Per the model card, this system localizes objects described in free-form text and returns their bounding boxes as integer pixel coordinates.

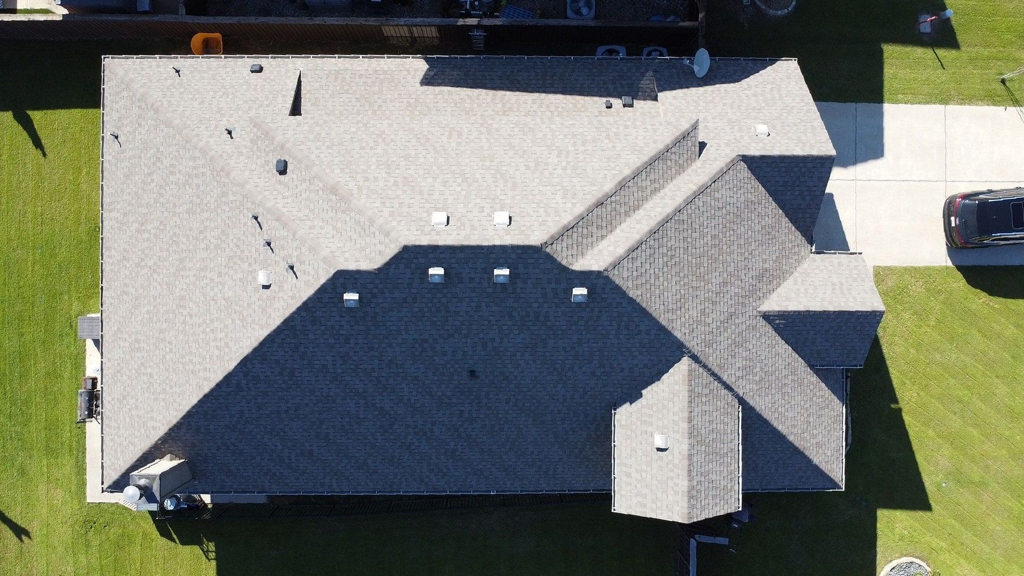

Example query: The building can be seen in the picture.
[102,55,886,525]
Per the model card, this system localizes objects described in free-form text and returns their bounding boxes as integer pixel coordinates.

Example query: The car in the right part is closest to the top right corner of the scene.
[941,184,1024,247]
